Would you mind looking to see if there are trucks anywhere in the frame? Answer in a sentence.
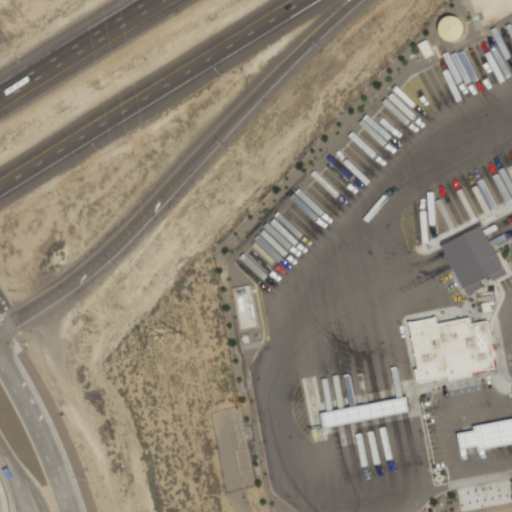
Yes, I can see a truck in this picture.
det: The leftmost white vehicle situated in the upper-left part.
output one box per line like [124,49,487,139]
[4,77,31,95]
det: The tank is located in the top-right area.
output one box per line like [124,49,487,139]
[436,14,466,44]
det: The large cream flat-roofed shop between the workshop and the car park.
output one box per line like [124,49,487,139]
[408,316,496,384]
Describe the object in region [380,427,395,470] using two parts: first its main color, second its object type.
white vehicle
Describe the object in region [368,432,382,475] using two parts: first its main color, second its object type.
white vehicle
